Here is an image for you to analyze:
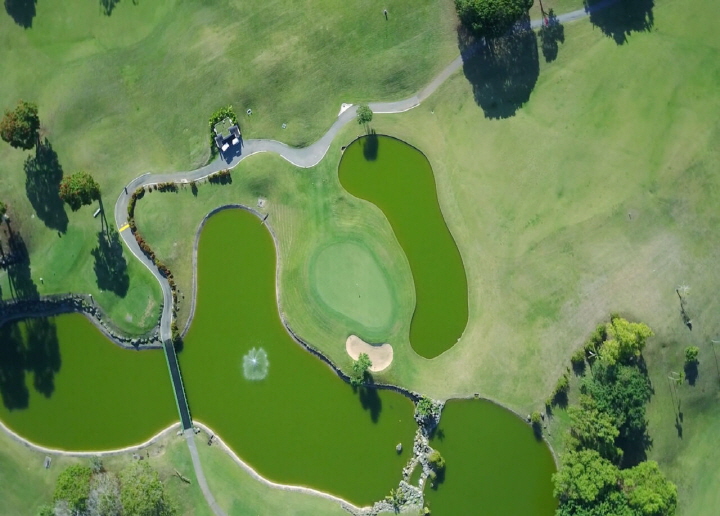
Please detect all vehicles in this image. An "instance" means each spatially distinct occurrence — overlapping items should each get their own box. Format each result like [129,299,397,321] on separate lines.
[221,143,231,152]
[231,138,240,146]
